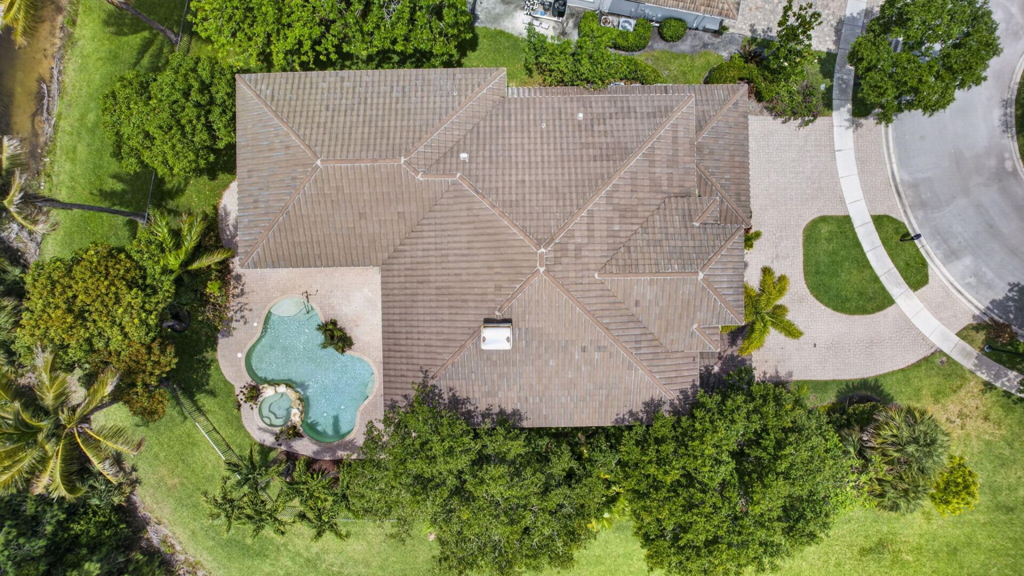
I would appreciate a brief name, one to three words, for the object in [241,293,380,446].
swimming pool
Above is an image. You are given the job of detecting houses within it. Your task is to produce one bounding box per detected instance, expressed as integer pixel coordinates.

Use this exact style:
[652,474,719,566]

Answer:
[566,0,747,36]
[233,66,756,431]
